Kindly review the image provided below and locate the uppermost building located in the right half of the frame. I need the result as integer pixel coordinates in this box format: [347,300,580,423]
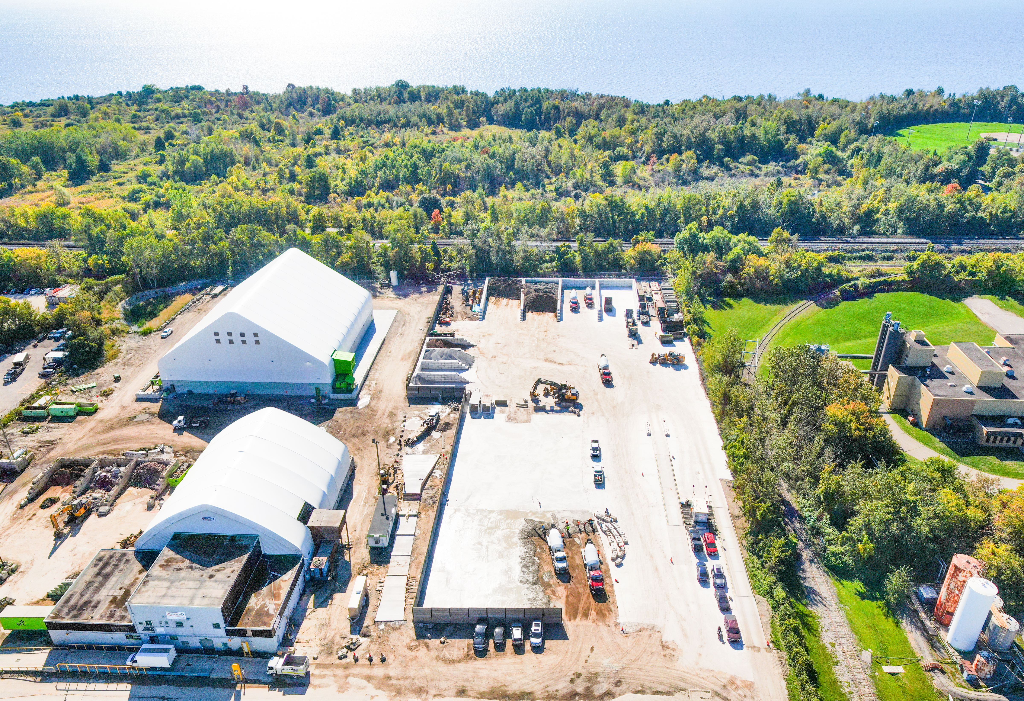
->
[885,318,1024,447]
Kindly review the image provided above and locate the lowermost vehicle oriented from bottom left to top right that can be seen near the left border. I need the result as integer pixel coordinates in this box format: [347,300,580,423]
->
[51,498,96,538]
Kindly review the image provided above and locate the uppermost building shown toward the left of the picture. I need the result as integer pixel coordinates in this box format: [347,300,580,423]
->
[157,244,372,396]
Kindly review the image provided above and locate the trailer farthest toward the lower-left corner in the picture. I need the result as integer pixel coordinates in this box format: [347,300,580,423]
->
[0,598,54,628]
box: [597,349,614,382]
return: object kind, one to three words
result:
vehicle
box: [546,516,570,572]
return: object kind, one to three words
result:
truck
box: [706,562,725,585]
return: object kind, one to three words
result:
car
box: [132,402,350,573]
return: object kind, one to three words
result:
building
